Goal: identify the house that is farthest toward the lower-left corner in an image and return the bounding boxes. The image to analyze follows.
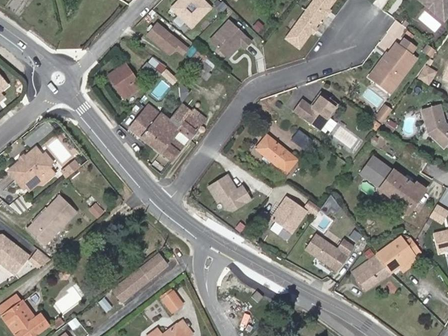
[0,292,49,336]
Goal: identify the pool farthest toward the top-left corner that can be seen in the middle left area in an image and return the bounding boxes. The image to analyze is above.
[44,131,81,168]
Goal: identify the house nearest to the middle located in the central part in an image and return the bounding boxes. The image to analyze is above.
[208,174,252,212]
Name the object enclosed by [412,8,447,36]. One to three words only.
swimming pool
